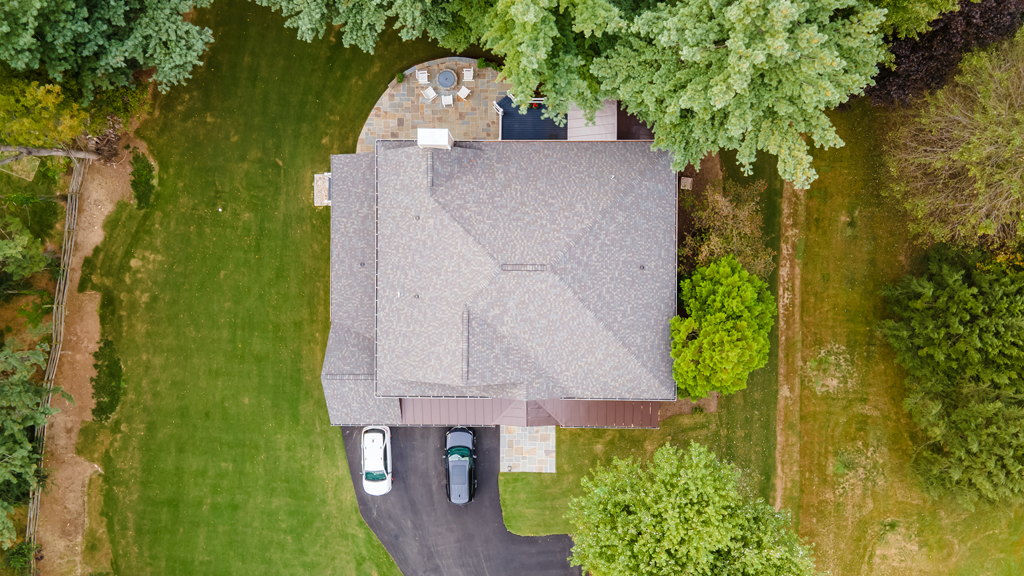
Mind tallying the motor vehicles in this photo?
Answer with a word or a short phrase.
two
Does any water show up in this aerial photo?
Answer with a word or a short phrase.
No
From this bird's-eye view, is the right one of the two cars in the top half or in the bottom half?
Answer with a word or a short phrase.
bottom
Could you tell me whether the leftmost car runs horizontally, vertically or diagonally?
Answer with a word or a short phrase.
vertically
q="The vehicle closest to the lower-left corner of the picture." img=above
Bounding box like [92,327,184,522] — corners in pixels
[359,428,394,495]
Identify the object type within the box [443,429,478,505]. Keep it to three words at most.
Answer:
car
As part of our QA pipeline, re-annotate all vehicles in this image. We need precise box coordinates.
[359,428,394,495]
[443,429,478,505]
